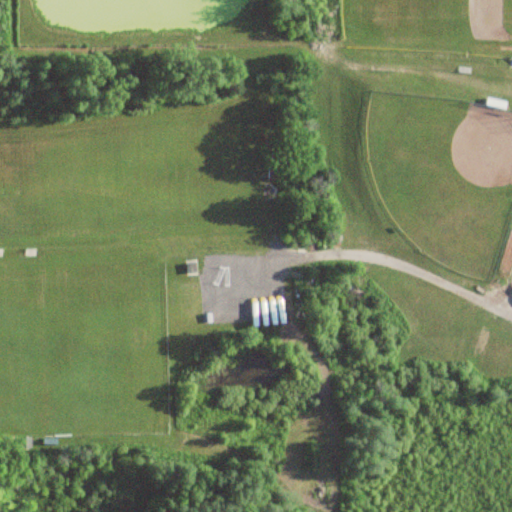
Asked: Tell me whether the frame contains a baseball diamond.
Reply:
Yes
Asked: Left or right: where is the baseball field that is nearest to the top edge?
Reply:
right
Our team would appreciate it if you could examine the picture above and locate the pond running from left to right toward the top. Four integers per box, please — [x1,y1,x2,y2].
[34,0,243,34]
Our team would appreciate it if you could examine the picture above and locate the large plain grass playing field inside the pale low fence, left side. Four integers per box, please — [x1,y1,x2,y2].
[0,246,168,436]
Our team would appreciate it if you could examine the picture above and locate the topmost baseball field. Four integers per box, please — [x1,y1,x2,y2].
[344,0,512,60]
